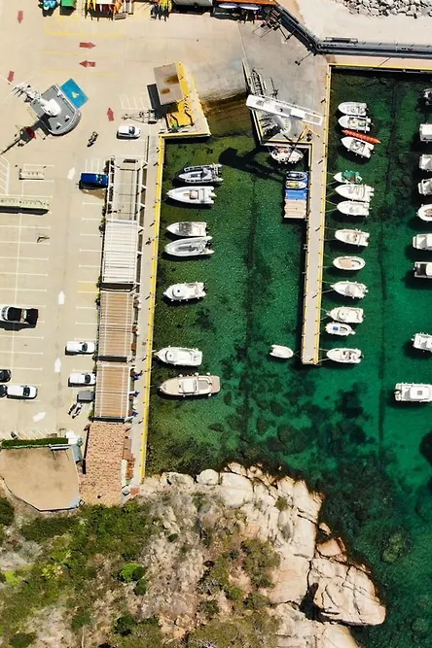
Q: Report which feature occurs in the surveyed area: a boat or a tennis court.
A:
boat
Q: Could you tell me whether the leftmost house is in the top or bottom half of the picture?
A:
bottom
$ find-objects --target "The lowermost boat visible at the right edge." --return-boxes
[391,381,432,403]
